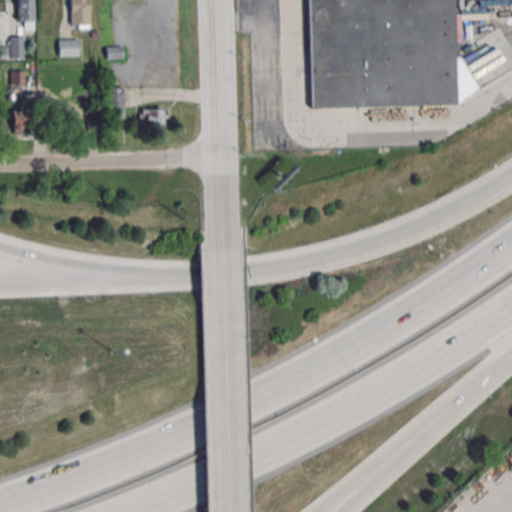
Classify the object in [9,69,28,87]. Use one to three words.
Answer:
house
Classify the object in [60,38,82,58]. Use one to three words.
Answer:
building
